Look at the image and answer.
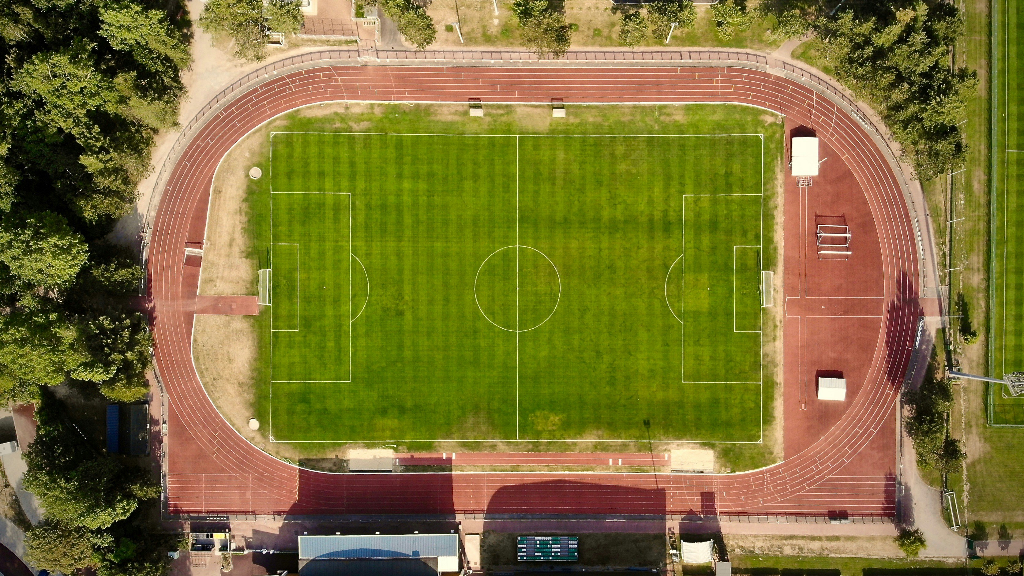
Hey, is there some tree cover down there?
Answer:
Yes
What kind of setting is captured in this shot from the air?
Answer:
sports ground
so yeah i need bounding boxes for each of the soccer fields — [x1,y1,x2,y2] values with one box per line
[271,133,763,443]
[991,0,1024,429]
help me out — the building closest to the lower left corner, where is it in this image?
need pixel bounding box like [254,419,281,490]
[187,533,230,555]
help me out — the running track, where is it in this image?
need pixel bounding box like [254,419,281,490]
[146,66,920,518]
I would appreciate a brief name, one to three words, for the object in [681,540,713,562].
shed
